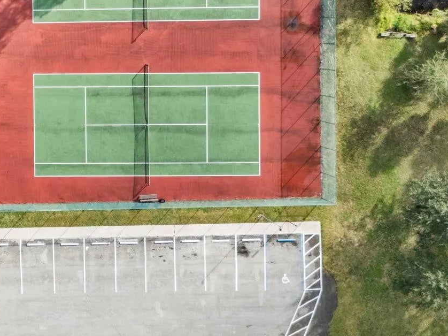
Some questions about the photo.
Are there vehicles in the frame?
No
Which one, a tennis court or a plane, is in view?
tennis court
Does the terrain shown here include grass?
Yes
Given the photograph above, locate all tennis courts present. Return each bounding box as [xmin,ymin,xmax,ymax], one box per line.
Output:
[33,73,261,178]
[32,0,261,22]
